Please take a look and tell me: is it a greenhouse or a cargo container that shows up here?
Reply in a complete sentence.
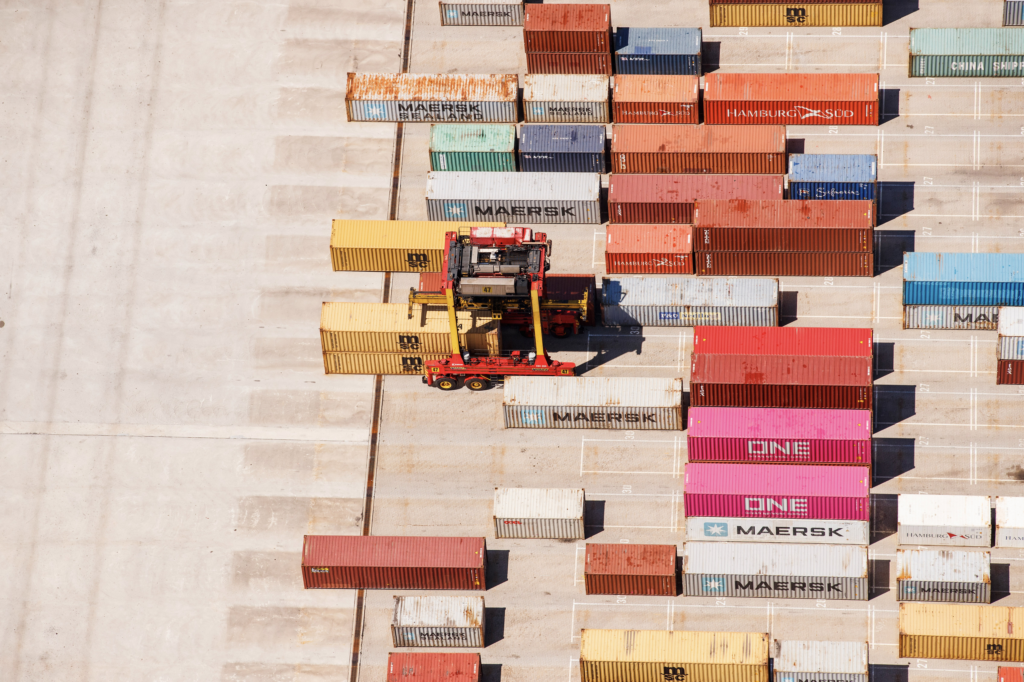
I can see a cargo container in this picture.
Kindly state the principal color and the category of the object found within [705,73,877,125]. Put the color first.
red shipping container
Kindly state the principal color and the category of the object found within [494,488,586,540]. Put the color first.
white shipping container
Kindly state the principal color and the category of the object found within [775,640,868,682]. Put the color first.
white shipping container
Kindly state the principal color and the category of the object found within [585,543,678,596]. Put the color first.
red shipping container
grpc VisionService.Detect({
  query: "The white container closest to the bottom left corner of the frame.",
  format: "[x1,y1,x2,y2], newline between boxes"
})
[391,596,486,648]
